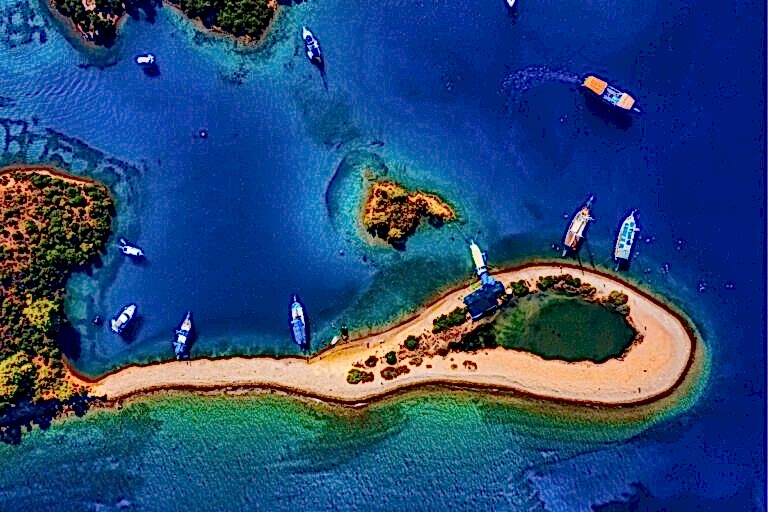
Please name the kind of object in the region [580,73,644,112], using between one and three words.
boat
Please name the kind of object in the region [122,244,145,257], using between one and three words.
boat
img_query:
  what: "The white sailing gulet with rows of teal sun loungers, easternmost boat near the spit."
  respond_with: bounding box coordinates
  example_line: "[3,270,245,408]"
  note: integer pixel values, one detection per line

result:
[615,209,644,268]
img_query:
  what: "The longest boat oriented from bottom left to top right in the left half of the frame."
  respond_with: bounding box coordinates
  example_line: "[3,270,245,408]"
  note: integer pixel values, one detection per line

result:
[109,306,136,335]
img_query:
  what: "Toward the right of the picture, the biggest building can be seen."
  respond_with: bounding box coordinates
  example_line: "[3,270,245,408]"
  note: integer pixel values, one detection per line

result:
[460,280,503,321]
